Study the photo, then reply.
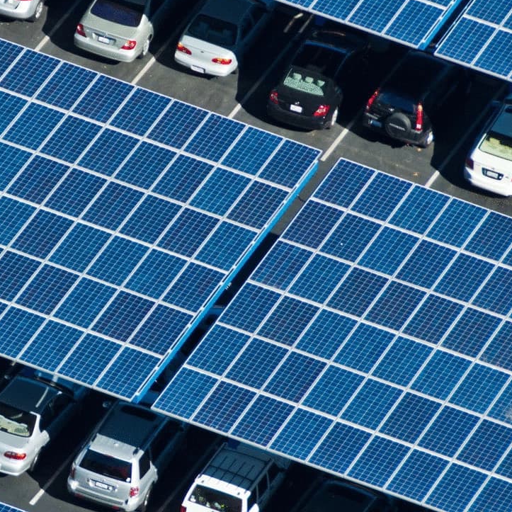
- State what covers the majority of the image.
buildings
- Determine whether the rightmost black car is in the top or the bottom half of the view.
top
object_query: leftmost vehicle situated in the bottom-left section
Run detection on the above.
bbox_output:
[0,363,87,479]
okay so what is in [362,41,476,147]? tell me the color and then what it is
black car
